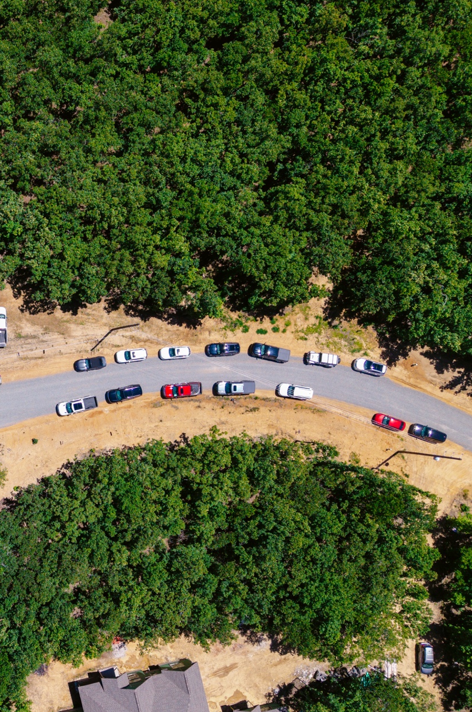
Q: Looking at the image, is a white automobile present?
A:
Yes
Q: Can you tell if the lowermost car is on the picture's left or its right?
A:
right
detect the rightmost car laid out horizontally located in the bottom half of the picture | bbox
[407,424,450,444]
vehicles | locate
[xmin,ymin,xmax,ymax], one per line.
[275,383,315,399]
[114,346,148,363]
[161,380,204,398]
[0,306,10,350]
[350,357,389,375]
[55,395,100,416]
[104,384,144,401]
[304,352,343,367]
[213,379,257,397]
[247,342,293,363]
[370,413,408,431]
[205,340,242,357]
[407,424,450,444]
[73,355,107,372]
[417,642,438,674]
[157,345,192,360]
